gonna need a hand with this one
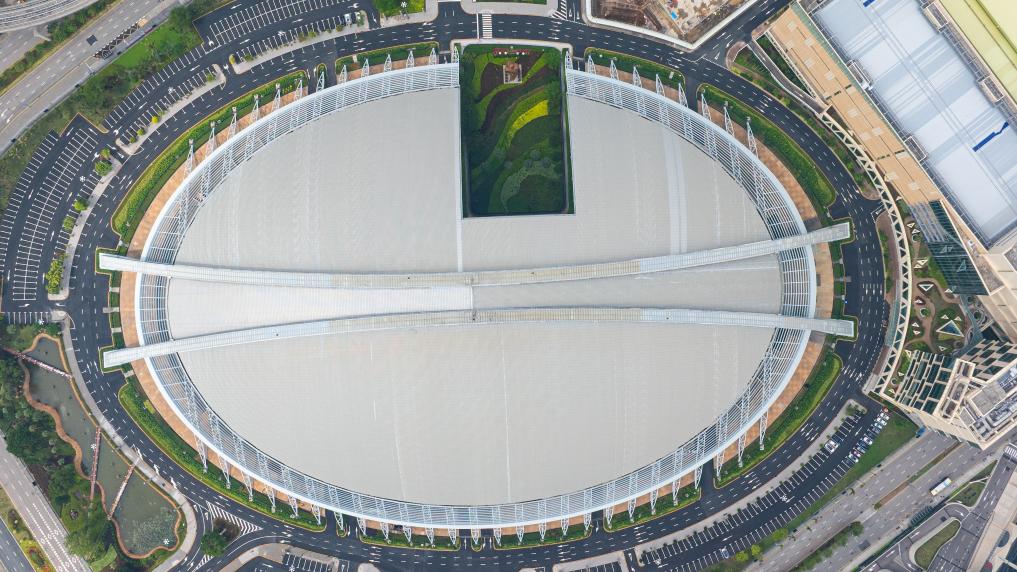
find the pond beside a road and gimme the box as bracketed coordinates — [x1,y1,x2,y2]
[24,338,179,555]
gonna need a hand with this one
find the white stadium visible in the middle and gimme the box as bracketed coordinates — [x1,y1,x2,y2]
[99,44,854,546]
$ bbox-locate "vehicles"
[874,421,885,431]
[844,458,855,468]
[932,477,956,496]
[352,12,358,23]
[721,547,729,559]
[881,412,892,421]
[849,454,860,463]
[856,445,868,454]
[871,426,882,435]
[859,441,871,451]
[877,417,889,427]
[345,13,352,25]
[829,439,839,450]
[833,434,843,445]
[852,449,864,459]
[864,436,875,446]
[825,442,835,453]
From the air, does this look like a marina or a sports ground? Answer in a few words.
sports ground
